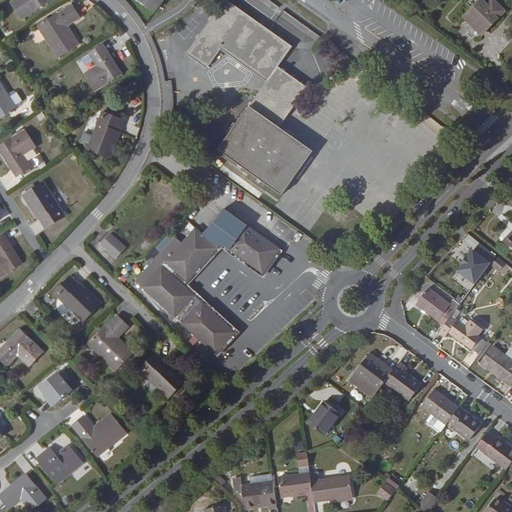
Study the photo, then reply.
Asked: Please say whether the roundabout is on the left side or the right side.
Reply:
right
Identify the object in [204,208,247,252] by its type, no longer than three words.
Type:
building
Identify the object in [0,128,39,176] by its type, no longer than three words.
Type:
house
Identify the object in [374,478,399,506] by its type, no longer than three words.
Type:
barn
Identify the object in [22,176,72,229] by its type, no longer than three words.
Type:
house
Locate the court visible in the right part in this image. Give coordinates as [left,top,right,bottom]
[294,121,366,223]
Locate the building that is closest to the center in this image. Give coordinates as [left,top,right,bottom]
[228,226,282,276]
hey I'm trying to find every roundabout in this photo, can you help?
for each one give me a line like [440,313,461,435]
[322,270,384,332]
